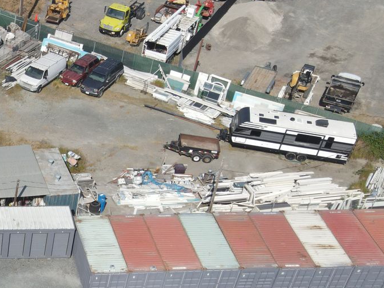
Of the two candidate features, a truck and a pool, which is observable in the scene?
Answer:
truck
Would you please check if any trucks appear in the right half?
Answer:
Yes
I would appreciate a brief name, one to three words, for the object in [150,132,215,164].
trailer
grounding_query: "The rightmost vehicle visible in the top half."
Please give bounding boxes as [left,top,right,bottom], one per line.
[317,66,368,116]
